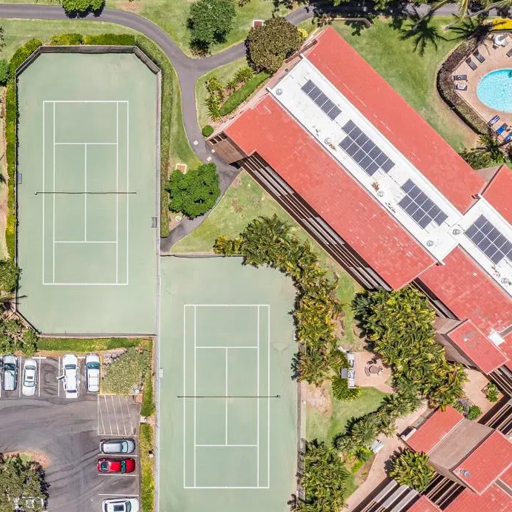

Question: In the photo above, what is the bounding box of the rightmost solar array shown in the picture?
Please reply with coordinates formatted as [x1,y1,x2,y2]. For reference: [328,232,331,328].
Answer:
[464,215,512,267]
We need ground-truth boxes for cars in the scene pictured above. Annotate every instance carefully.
[101,498,138,512]
[98,458,133,475]
[83,353,102,393]
[99,438,134,455]
[0,354,19,392]
[56,354,80,403]
[21,358,38,394]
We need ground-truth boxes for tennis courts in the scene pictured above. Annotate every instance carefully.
[160,255,297,512]
[18,52,155,335]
